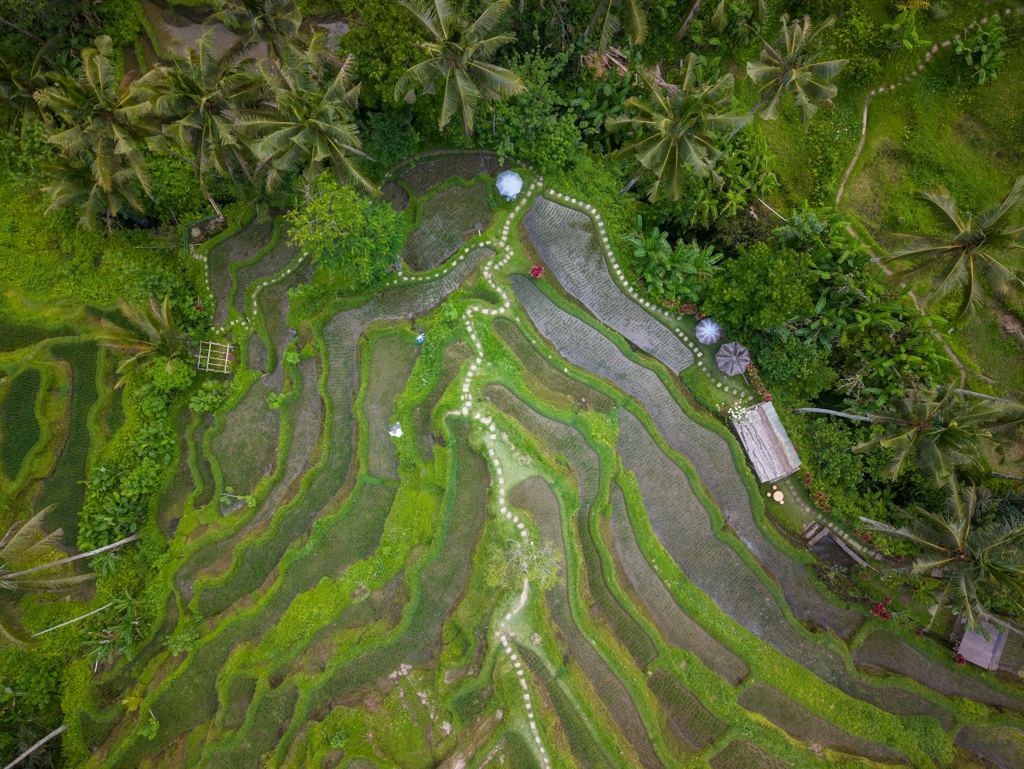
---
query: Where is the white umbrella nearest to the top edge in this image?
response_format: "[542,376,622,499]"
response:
[496,173,523,200]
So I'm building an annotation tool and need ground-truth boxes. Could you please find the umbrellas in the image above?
[713,341,748,376]
[496,173,523,200]
[695,319,719,344]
